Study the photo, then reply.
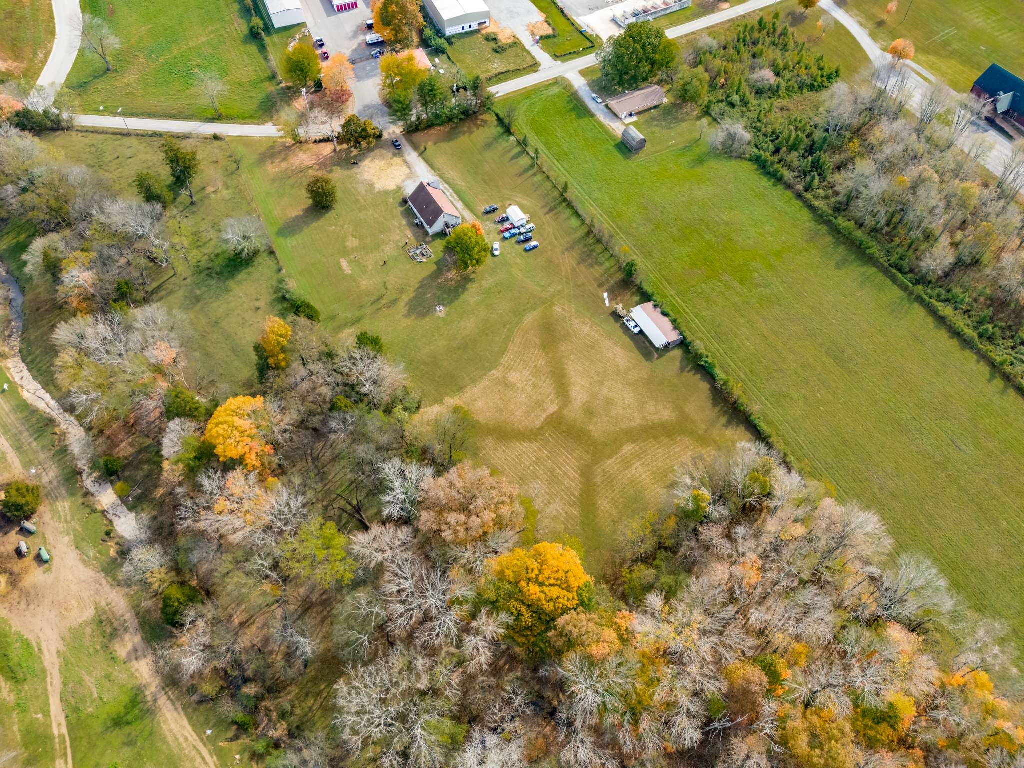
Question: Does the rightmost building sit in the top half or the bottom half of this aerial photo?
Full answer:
You can find the rightmost building in the top half.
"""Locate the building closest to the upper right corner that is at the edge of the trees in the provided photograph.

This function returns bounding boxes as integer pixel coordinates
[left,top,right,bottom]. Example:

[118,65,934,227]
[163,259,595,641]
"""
[971,65,1024,130]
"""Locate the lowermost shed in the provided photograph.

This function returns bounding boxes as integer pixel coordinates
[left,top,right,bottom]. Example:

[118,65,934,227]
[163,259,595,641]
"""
[627,304,683,355]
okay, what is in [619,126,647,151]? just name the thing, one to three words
barn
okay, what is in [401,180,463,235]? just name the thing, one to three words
house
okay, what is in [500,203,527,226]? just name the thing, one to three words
shed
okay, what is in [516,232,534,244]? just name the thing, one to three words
vehicle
